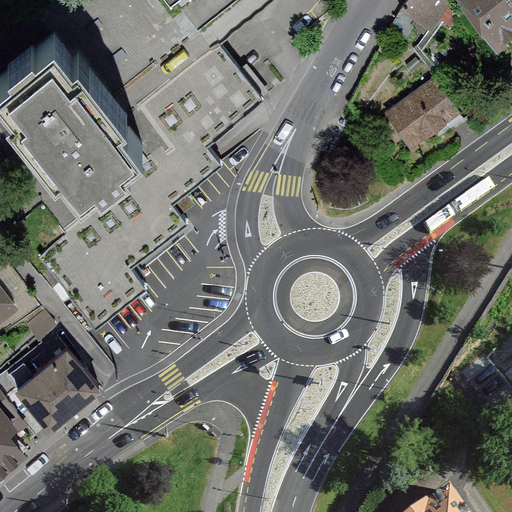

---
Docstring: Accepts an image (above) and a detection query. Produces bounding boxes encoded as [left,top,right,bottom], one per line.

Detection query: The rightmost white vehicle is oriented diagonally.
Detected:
[421,175,496,232]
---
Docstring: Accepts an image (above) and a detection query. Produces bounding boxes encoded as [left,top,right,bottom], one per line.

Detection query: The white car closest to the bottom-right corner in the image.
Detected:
[326,329,349,346]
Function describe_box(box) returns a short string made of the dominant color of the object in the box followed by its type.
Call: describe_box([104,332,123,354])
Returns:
white car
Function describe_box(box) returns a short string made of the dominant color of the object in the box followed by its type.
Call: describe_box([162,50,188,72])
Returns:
yellow vehicle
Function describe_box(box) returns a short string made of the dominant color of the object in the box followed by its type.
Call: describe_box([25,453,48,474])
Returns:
white vehicle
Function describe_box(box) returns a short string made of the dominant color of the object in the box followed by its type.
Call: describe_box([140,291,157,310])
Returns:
white car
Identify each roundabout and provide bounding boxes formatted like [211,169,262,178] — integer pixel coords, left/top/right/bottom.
[246,228,384,366]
